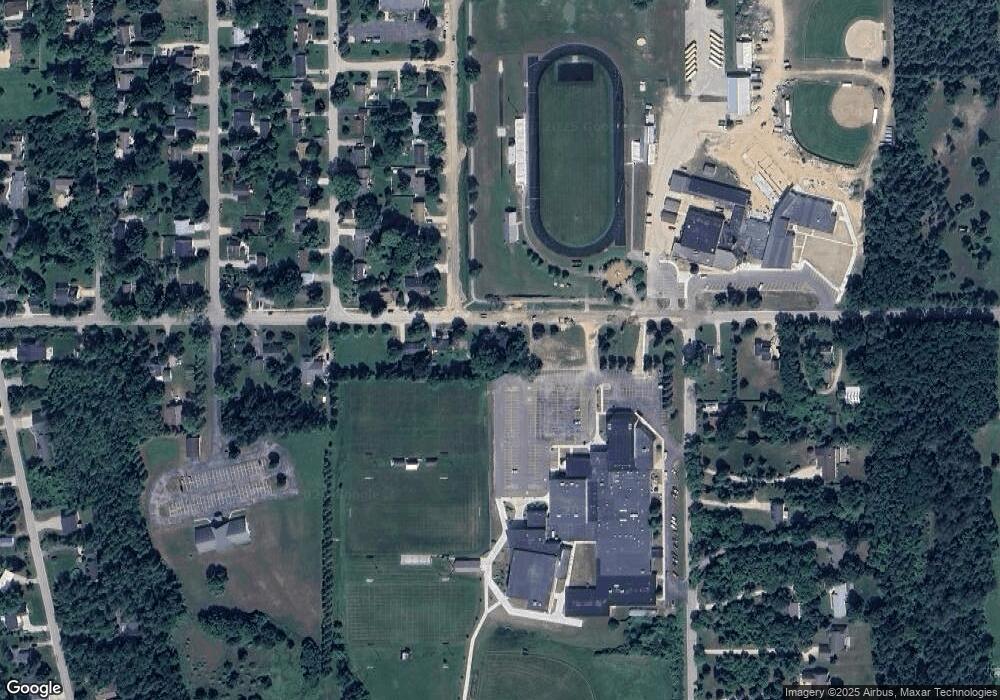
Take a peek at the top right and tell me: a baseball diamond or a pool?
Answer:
baseball diamond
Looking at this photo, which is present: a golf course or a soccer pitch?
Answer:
soccer pitch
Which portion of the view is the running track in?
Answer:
top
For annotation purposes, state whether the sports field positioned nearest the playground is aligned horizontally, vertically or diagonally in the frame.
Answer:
vertically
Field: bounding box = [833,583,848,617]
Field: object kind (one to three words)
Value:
barn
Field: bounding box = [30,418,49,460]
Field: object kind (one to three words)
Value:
house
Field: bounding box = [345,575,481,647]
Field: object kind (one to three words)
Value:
sports field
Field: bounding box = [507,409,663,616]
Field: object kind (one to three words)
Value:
building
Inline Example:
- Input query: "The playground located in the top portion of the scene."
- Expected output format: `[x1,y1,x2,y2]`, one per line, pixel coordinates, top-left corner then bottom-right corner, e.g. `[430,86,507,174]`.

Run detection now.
[604,260,632,286]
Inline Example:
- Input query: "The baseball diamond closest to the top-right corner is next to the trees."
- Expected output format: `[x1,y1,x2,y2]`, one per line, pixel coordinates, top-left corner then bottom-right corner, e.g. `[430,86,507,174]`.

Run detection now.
[804,0,885,62]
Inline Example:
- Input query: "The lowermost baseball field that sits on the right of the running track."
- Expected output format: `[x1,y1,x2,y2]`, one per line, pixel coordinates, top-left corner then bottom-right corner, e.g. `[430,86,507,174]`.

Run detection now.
[792,82,875,165]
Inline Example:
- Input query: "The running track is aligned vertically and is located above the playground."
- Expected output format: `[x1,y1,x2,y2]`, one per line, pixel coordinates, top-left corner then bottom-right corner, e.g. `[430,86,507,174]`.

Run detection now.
[526,43,625,258]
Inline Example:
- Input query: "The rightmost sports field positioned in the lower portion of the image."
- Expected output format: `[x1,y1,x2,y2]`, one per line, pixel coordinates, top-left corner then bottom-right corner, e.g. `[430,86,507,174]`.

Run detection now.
[482,653,594,700]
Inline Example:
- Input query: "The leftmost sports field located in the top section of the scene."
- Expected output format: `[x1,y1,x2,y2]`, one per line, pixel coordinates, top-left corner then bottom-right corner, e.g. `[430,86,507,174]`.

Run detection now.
[540,56,611,245]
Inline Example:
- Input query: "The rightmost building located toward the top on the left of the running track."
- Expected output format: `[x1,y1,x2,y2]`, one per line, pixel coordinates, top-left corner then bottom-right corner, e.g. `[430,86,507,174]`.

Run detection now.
[504,212,519,243]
